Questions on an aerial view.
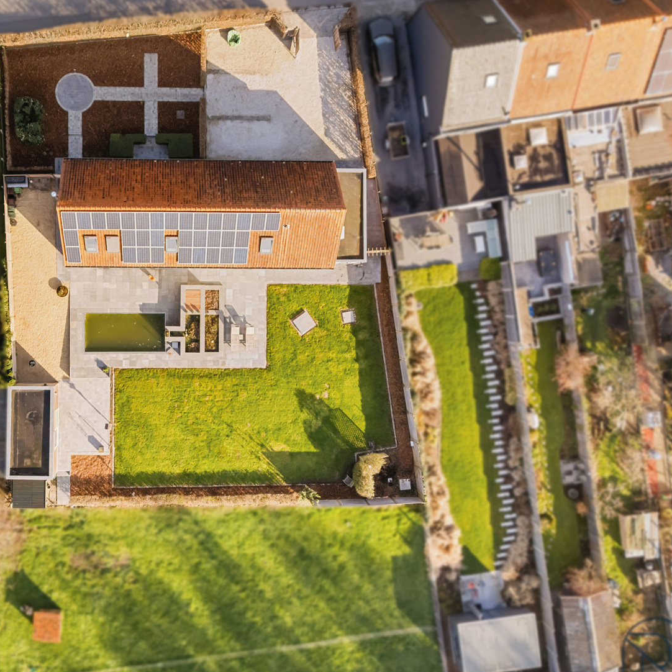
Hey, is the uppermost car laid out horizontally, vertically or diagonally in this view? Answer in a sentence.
The uppermost car is laid out vertically.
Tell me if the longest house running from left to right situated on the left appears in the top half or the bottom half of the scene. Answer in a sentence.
The longest house running from left to right situated on the left sits in the top half of the picture.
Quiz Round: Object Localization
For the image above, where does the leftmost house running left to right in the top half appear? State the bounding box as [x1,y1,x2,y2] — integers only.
[55,157,346,270]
